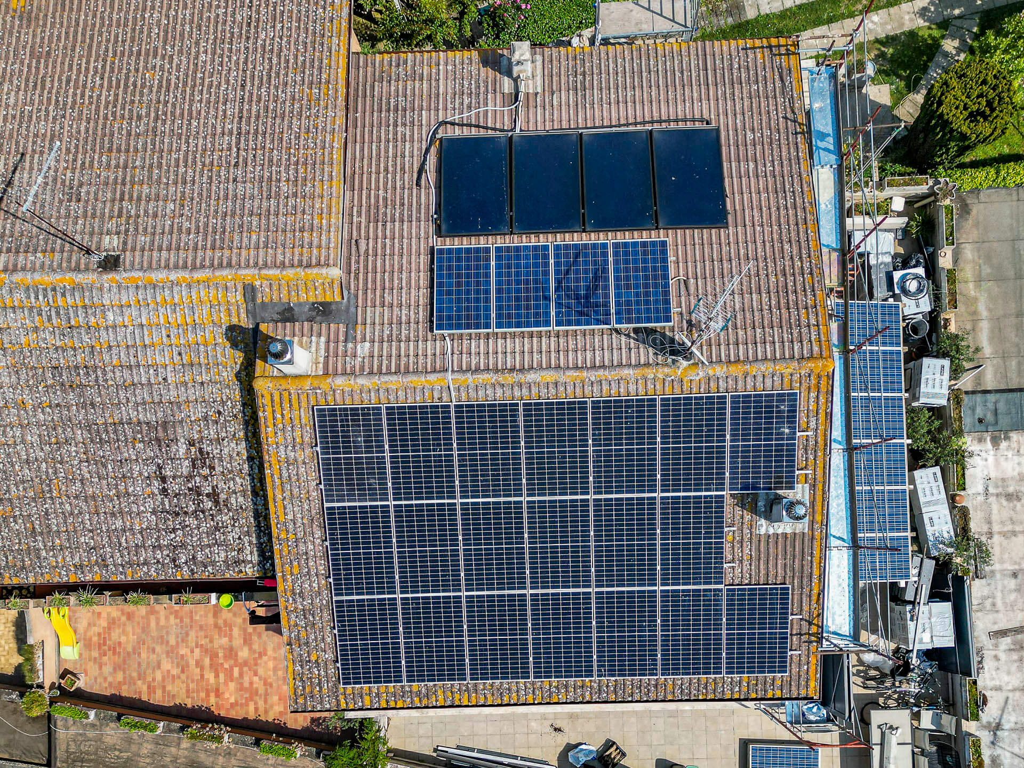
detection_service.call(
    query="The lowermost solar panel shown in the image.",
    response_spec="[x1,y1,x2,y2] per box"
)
[748,744,821,768]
